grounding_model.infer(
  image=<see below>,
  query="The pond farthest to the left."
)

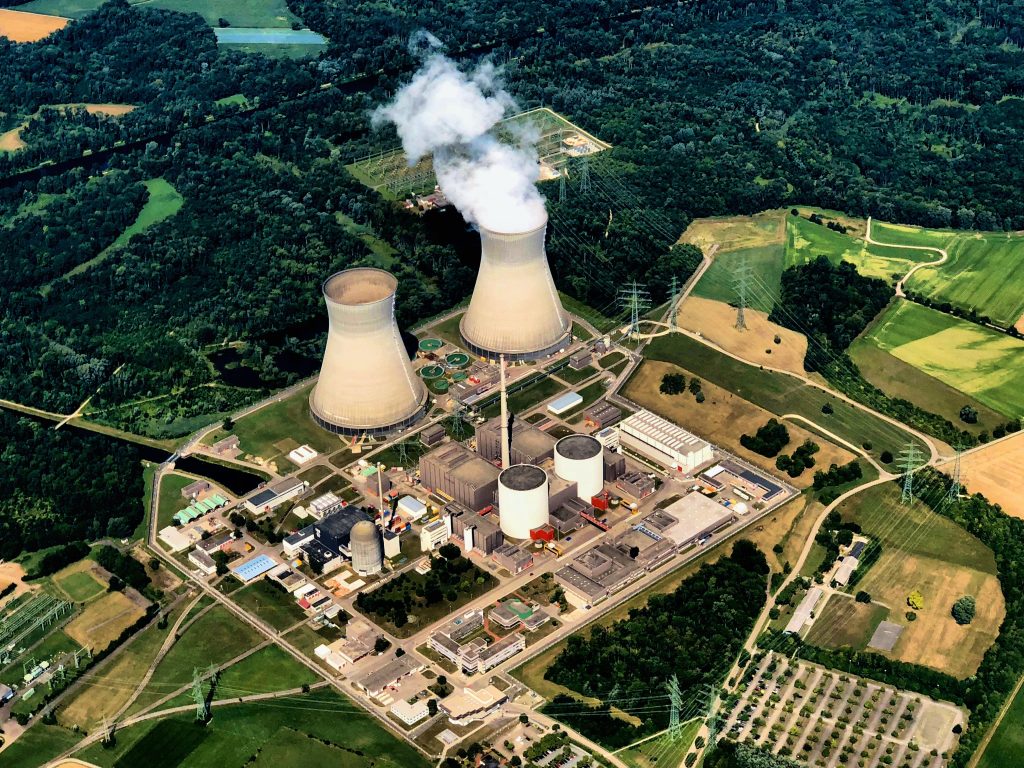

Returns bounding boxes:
[205,346,269,389]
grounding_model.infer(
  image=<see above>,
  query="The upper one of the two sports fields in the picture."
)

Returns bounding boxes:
[58,569,104,600]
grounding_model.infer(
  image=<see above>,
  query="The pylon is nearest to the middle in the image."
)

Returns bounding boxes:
[447,402,469,444]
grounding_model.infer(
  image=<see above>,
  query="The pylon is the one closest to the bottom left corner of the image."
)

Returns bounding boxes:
[97,703,115,749]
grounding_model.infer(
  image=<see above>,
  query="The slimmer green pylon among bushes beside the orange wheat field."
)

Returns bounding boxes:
[946,445,974,504]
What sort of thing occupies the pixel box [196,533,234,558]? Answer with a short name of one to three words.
building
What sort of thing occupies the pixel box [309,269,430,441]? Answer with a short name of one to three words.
cooling tower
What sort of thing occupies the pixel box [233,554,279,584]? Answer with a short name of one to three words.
shed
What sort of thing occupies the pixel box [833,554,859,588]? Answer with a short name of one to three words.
barn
